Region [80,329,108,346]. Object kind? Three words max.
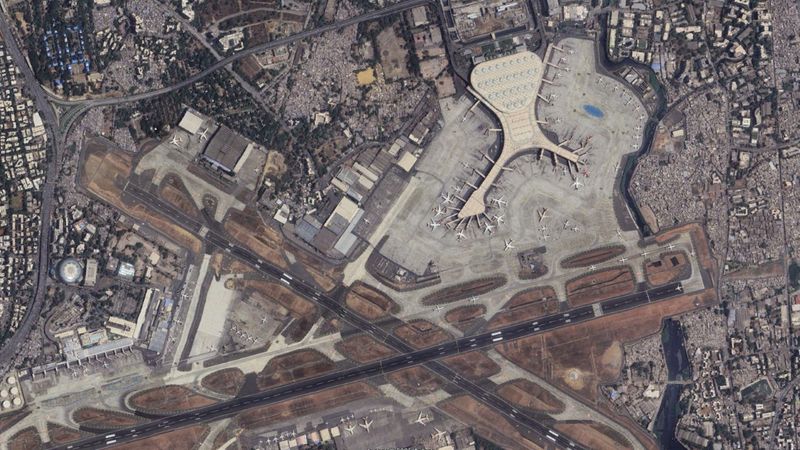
building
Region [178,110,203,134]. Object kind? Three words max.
hangar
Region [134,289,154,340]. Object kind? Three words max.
building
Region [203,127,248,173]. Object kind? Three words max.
hangar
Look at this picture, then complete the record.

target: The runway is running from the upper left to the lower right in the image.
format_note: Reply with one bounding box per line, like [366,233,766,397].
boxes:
[123,179,584,450]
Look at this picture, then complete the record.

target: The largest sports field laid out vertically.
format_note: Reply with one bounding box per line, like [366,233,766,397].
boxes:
[380,27,407,80]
